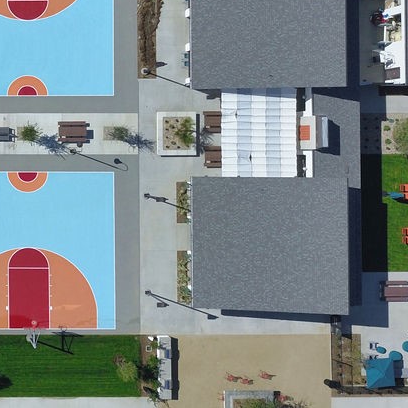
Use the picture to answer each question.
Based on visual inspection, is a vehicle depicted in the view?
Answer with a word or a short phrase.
No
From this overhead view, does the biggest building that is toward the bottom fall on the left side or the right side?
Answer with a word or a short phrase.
right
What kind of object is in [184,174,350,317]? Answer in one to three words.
building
